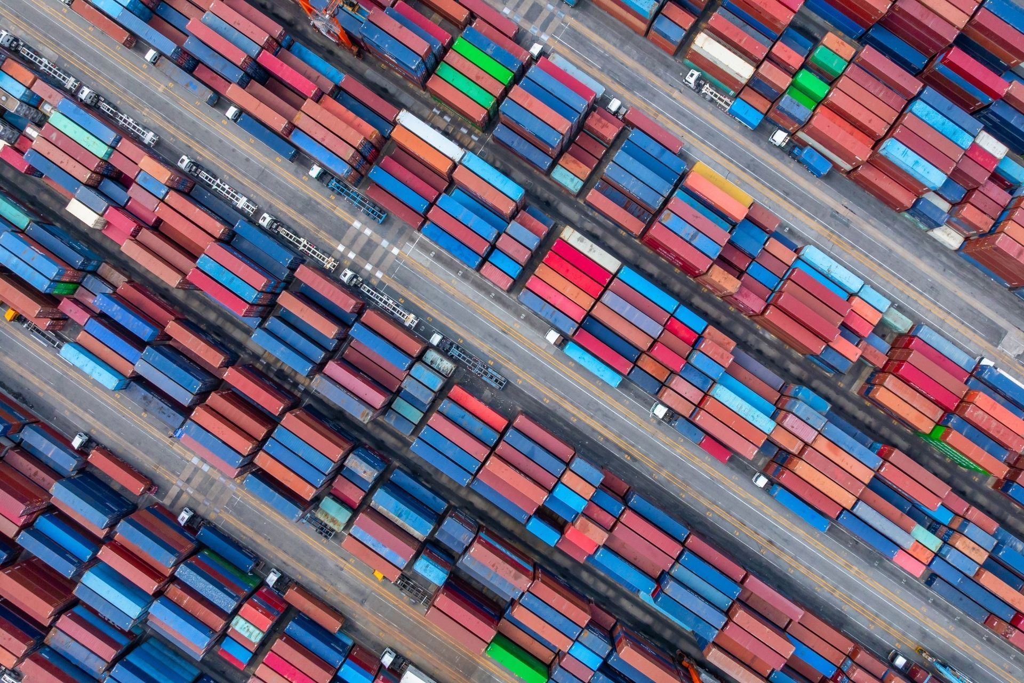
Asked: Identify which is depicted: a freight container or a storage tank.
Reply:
freight container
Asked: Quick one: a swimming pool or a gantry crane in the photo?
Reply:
gantry crane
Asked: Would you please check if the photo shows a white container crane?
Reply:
No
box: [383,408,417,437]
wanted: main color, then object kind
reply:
blue shipping container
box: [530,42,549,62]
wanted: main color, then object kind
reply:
white vehicle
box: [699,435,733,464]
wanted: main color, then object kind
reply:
pink shipping container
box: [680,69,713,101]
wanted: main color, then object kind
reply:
white truck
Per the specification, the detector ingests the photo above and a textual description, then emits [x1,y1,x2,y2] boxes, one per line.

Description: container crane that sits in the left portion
[294,0,373,58]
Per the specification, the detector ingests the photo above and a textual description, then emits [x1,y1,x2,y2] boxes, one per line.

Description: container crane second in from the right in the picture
[671,646,727,683]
